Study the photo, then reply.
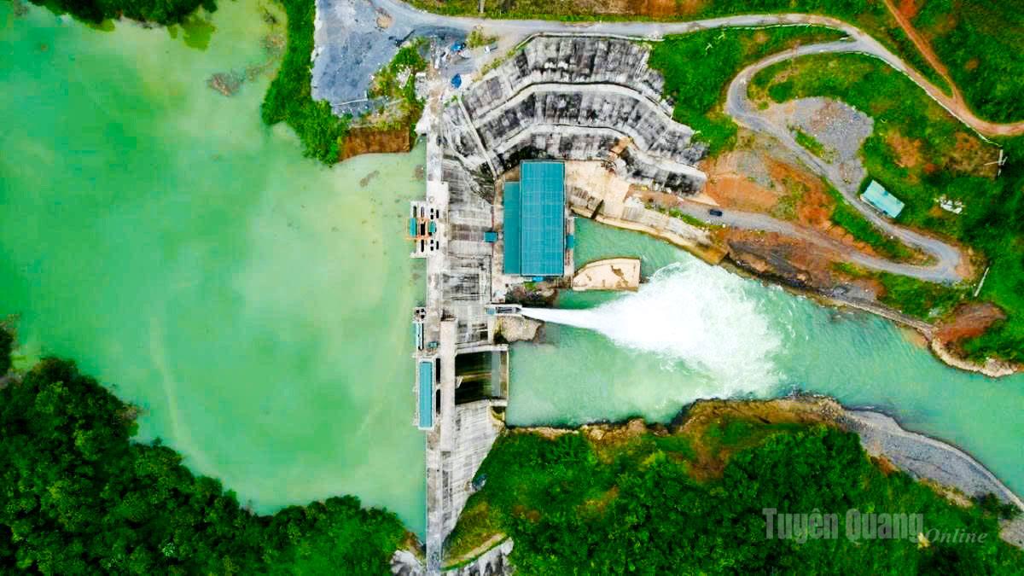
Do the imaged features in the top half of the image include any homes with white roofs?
No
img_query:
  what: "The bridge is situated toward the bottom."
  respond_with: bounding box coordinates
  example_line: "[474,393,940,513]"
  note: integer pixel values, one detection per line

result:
[440,319,457,450]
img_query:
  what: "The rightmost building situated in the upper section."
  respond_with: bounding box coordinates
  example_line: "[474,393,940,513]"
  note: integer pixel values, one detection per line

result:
[857,180,904,217]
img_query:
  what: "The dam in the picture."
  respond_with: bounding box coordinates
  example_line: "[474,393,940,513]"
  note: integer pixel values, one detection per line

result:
[410,121,508,559]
